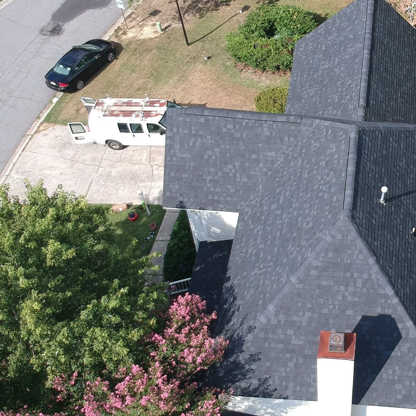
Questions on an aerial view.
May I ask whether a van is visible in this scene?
Yes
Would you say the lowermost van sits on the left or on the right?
left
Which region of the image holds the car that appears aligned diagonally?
top left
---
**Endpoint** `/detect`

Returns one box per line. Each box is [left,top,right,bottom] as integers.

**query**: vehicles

[68,94,170,150]
[46,37,117,93]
